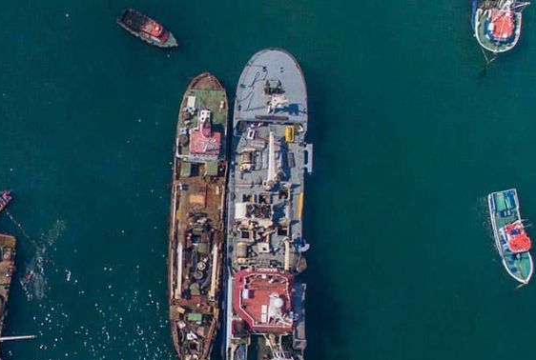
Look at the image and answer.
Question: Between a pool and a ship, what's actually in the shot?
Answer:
ship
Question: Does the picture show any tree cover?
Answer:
No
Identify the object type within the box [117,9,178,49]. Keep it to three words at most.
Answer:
boat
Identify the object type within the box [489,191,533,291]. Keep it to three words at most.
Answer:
boat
